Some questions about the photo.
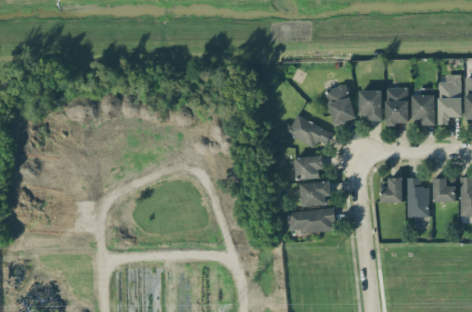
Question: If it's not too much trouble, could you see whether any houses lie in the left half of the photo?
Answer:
No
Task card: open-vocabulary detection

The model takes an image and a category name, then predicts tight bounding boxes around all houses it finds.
[408,178,430,218]
[460,178,472,218]
[294,156,324,180]
[433,178,456,202]
[300,182,330,208]
[358,91,382,122]
[324,84,357,127]
[292,114,334,152]
[438,76,462,124]
[412,95,436,126]
[288,210,335,234]
[386,88,409,126]
[380,178,402,202]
